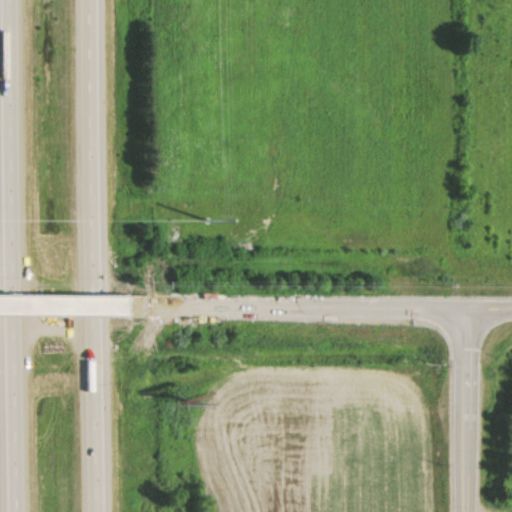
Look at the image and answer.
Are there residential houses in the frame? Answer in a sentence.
No, the picture doesn't show any residential house.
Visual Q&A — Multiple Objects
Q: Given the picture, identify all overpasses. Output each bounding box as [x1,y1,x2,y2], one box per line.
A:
[0,294,150,318]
